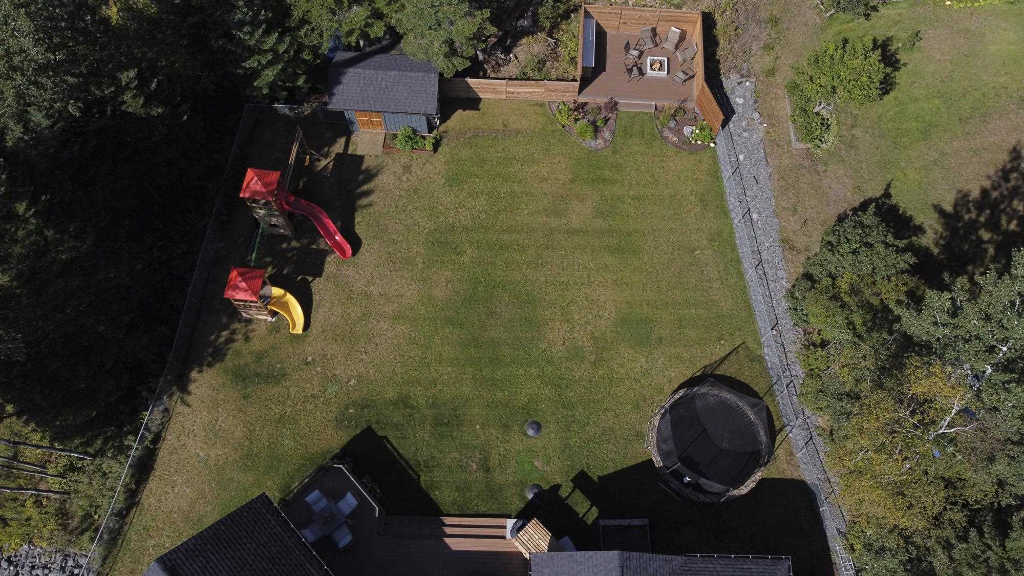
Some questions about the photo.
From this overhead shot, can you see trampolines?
Yes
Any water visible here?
No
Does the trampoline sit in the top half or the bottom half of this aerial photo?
bottom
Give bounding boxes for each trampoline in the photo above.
[642,371,788,510]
